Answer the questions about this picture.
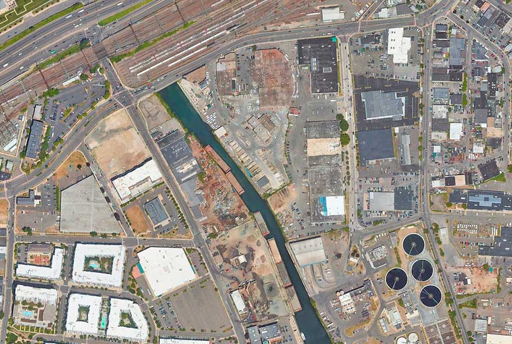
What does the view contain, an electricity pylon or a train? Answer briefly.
train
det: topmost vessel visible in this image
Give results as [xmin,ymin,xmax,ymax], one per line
[205,145,229,171]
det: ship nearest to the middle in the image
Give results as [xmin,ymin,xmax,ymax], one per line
[224,172,246,195]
